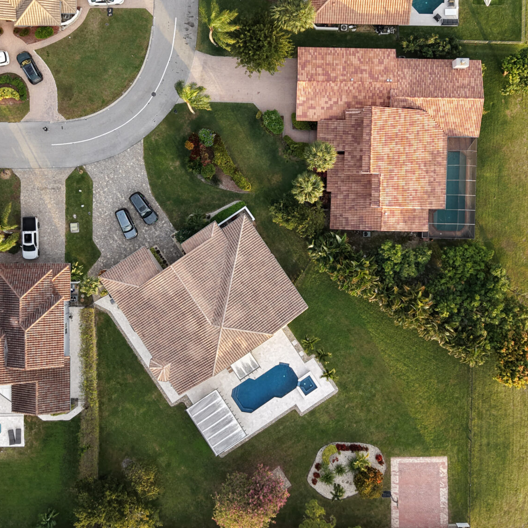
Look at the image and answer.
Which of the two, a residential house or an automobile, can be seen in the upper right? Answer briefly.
residential house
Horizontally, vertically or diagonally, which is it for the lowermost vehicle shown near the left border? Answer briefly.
vertically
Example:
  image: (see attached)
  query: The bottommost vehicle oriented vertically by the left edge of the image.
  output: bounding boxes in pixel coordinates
[21,216,41,258]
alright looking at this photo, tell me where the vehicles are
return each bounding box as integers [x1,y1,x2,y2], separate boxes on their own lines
[21,216,41,258]
[0,50,10,66]
[130,190,158,226]
[113,207,138,241]
[17,50,44,86]
[88,0,124,6]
